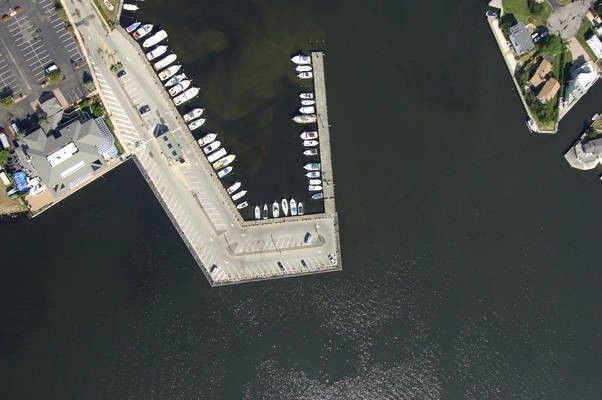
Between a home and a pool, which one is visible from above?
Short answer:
home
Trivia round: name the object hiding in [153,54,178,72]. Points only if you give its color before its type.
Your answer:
white boat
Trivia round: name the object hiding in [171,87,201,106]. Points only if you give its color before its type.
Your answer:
white boat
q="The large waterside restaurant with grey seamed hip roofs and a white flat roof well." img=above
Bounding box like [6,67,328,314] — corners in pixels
[21,96,116,196]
